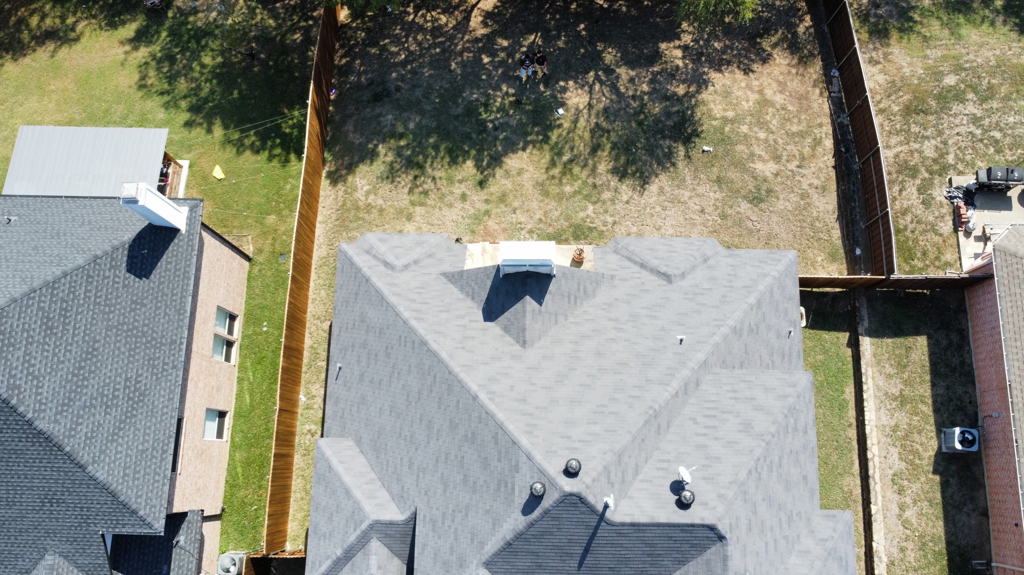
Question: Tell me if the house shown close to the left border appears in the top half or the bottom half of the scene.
bottom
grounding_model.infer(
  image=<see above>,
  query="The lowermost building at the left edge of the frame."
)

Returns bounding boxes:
[0,180,253,575]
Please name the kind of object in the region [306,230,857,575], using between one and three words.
house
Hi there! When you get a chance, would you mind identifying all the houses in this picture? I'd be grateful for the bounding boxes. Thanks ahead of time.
[0,180,253,575]
[306,230,857,575]
[963,221,1024,575]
